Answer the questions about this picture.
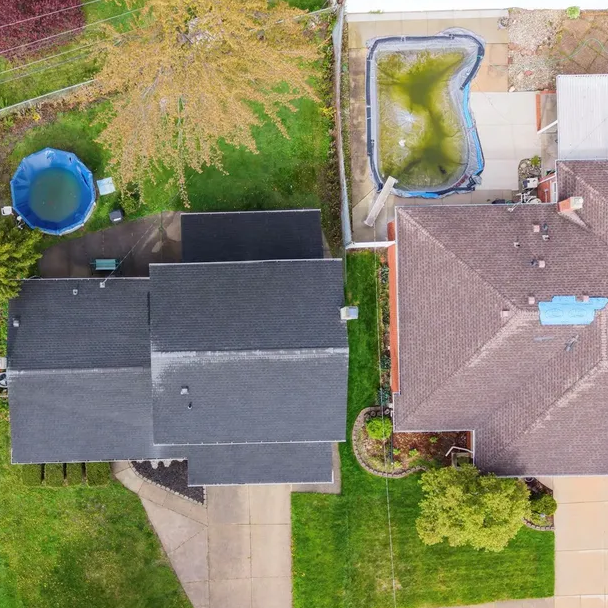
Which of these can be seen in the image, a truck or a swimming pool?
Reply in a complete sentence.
It is a swimming pool that can be seen here.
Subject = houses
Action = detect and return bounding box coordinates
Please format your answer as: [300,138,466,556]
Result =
[8,208,358,486]
[383,72,608,477]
